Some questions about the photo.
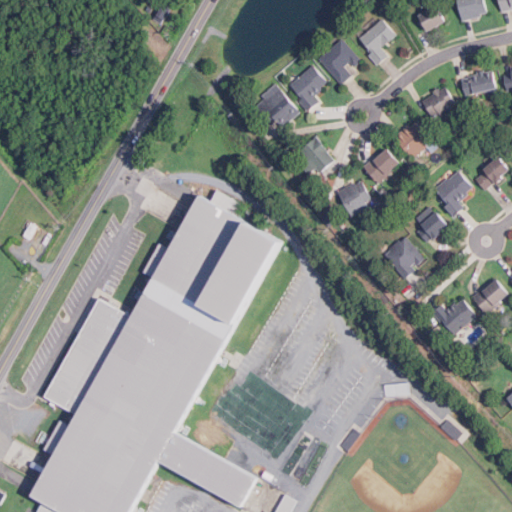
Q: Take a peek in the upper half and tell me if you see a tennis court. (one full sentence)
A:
No, in the upper half there is no tennis court.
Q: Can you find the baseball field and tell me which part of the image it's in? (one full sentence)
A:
The baseball field appears toward the bottom right of the photo.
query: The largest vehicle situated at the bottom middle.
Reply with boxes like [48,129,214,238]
[258,469,278,482]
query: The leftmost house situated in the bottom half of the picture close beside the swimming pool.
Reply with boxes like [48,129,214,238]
[434,299,476,334]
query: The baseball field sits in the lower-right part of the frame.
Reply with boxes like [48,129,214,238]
[344,400,462,512]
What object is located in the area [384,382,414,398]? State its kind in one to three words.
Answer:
building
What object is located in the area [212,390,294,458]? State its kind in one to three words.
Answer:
tennis court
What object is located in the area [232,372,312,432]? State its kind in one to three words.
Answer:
tennis court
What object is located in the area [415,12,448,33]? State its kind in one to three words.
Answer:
house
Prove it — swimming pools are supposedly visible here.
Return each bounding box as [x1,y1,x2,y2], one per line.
[467,326,483,344]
